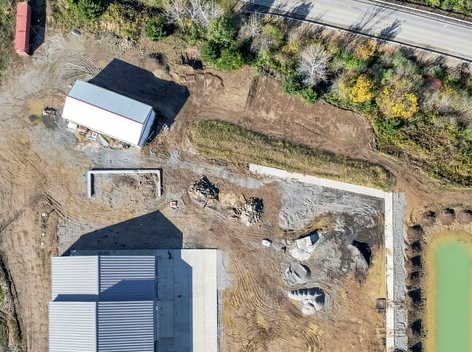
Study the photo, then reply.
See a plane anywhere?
No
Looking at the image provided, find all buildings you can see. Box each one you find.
[64,80,155,148]
[50,255,160,352]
